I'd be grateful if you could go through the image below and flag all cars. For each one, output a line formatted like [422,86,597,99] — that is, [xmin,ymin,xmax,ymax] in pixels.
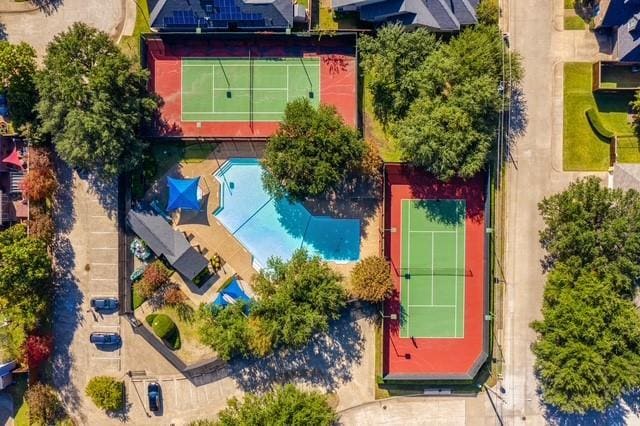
[91,297,119,310]
[147,381,161,410]
[91,332,122,345]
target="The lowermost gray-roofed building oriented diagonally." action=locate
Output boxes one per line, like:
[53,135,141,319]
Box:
[128,201,209,281]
